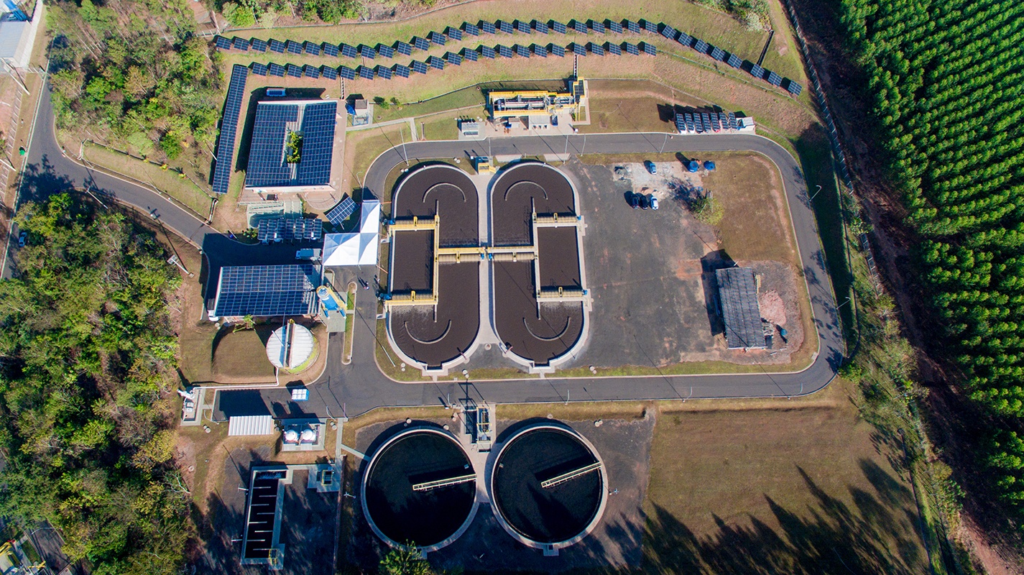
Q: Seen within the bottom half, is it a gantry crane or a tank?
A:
tank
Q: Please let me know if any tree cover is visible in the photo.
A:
Yes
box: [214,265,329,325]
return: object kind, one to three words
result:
building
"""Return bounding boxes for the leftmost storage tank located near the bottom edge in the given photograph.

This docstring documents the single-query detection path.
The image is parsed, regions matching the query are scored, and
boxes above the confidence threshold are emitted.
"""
[358,425,484,563]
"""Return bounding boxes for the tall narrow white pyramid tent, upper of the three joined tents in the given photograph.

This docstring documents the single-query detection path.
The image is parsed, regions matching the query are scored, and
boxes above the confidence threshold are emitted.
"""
[360,201,382,238]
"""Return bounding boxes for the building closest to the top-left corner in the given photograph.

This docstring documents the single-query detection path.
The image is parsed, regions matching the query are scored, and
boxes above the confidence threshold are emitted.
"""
[0,21,36,69]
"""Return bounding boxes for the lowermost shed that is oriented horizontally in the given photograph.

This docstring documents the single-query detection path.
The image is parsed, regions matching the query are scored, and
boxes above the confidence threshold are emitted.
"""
[229,415,279,437]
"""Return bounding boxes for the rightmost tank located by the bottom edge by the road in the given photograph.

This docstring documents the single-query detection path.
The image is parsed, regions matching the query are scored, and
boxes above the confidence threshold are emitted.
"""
[486,421,612,560]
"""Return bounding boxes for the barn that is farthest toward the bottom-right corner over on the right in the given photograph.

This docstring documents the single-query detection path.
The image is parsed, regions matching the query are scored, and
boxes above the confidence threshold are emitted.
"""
[713,267,766,351]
